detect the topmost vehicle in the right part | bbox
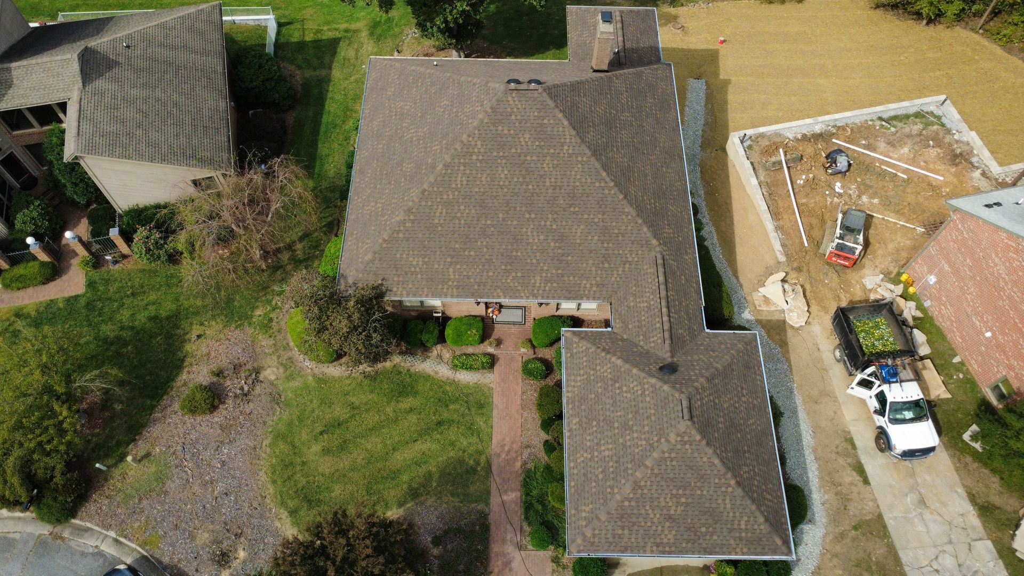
[812,206,865,275]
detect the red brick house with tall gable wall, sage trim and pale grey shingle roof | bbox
[901,173,1024,408]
